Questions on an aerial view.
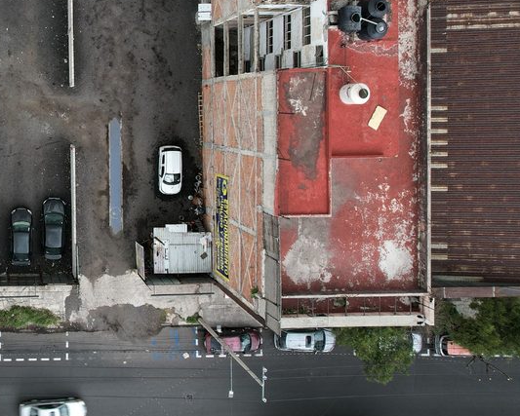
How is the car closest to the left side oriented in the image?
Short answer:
from top to bottom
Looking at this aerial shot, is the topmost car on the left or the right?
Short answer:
left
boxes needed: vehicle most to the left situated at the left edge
[8,205,35,265]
